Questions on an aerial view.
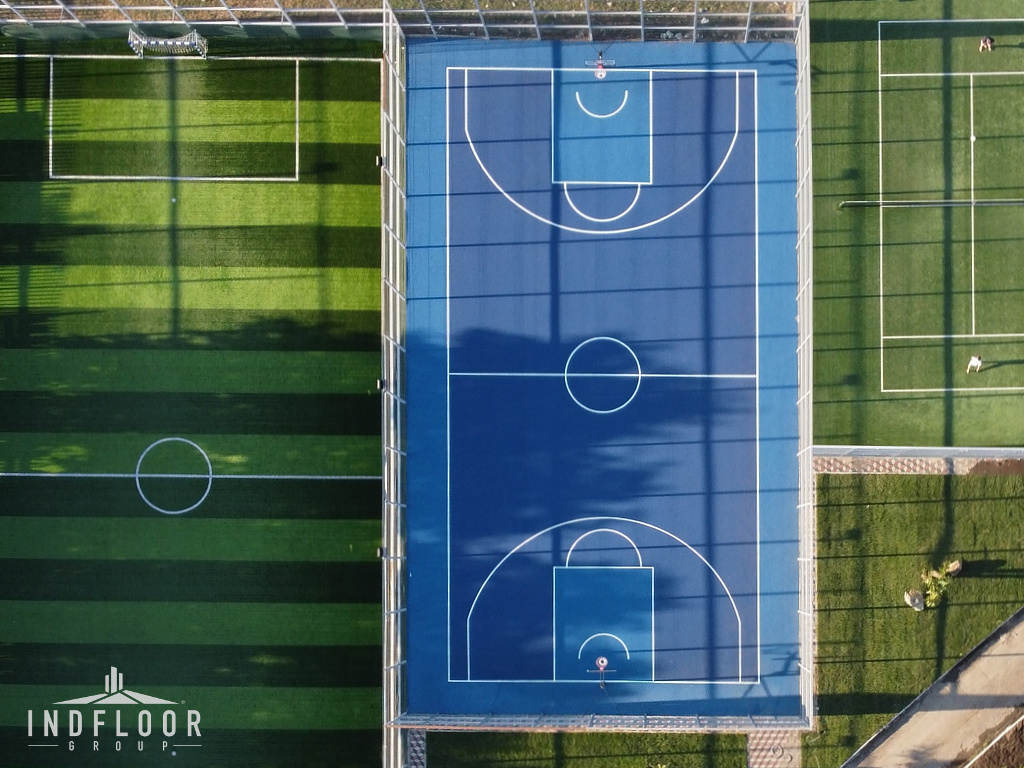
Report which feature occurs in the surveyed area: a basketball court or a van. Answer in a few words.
basketball court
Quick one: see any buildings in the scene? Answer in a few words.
No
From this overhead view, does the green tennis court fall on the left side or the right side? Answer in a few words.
right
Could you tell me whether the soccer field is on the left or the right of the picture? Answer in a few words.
left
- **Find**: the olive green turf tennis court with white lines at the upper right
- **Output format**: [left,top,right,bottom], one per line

[798,0,1024,458]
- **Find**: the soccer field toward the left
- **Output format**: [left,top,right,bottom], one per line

[0,38,385,768]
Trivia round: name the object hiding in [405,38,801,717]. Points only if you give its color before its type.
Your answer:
blue basketball court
